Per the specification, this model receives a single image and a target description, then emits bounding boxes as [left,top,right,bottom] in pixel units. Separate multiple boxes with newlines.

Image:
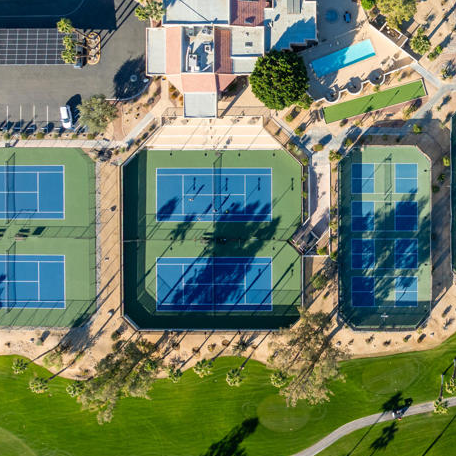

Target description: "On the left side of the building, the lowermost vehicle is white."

[59,105,74,130]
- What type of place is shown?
sports ground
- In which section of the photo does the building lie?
top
